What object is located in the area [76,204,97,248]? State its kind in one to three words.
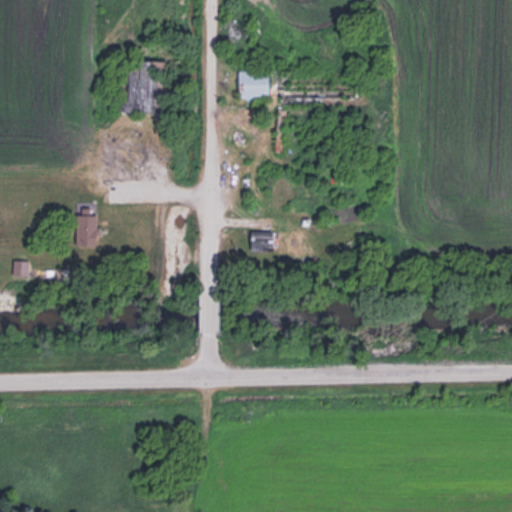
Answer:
house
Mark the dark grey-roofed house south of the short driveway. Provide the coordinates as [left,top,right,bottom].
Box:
[250,230,274,252]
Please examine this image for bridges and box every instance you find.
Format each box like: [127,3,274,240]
[200,290,219,337]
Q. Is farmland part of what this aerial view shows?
Yes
